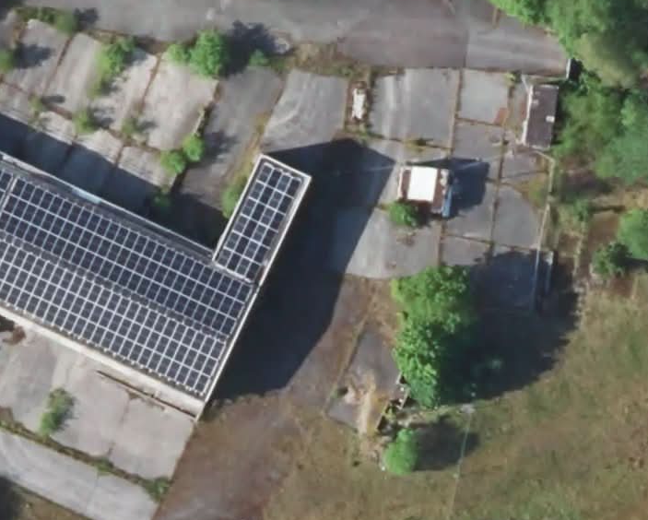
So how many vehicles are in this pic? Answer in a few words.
0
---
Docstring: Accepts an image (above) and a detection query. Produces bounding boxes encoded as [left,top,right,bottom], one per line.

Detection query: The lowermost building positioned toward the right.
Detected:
[393,167,450,216]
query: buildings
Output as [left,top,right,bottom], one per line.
[0,154,310,420]
[520,84,559,150]
[393,167,450,216]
